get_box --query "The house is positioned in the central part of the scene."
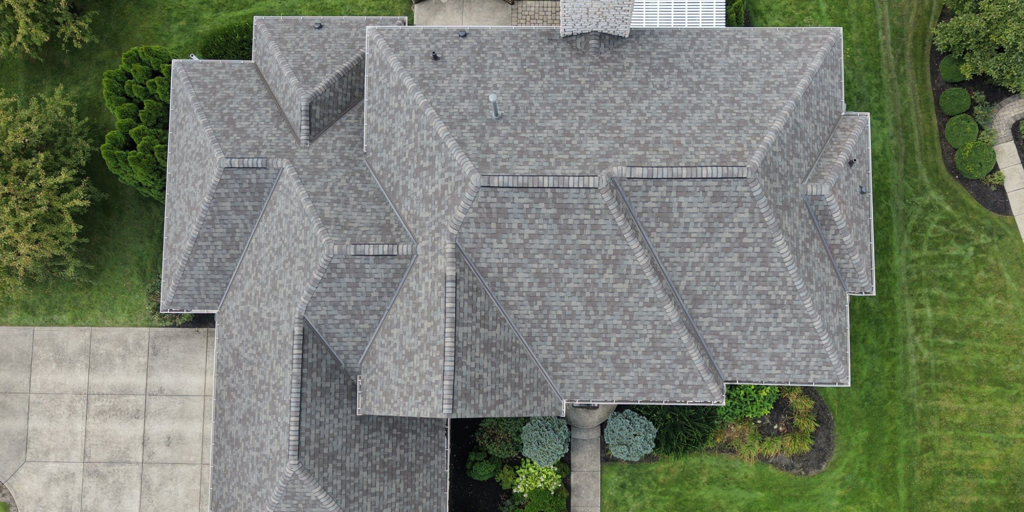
[161,0,875,512]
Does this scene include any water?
No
